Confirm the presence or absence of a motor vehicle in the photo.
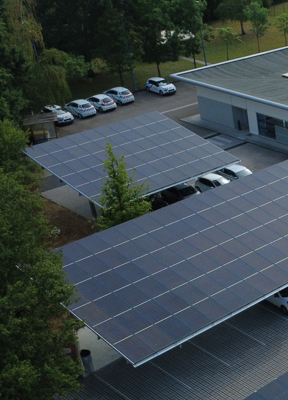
Yes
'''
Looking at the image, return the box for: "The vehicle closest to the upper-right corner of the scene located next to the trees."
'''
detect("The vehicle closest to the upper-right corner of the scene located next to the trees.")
[145,77,176,96]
